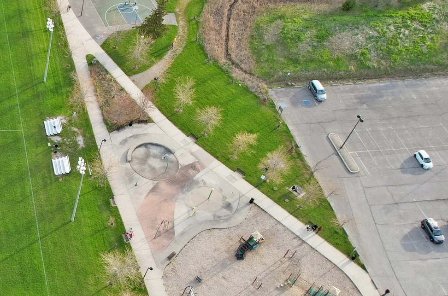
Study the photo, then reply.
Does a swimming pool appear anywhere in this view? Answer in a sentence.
No, the photo shows no swimming pool.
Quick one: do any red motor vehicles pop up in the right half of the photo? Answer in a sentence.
No, no red motor vehicle is visible in the right half of the photo.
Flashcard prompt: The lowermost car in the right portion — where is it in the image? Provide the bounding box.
[423,218,447,244]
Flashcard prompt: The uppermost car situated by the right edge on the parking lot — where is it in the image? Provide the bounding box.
[414,151,436,170]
